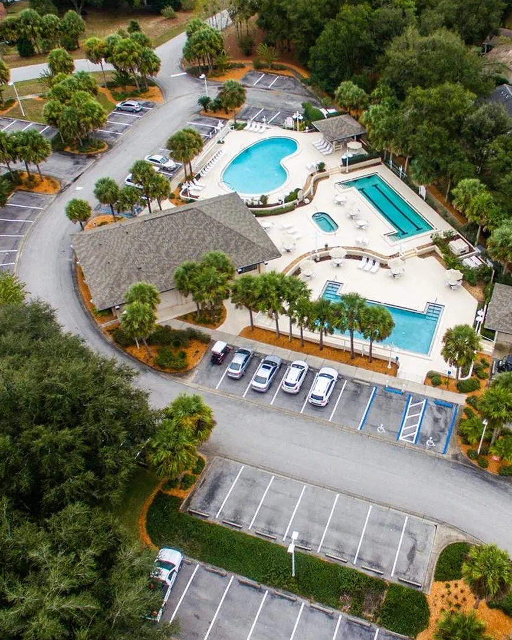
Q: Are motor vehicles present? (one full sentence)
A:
Yes, there is a motor vehicle in the image.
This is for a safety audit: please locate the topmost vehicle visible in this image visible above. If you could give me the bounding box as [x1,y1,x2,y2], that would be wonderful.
[116,98,143,113]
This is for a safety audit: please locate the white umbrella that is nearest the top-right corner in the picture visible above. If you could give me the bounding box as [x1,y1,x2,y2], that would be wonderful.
[345,139,364,151]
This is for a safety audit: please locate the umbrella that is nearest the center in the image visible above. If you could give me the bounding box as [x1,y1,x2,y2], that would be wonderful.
[296,260,320,275]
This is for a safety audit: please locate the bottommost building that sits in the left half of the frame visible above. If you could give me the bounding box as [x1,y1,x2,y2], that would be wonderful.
[66,191,281,328]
